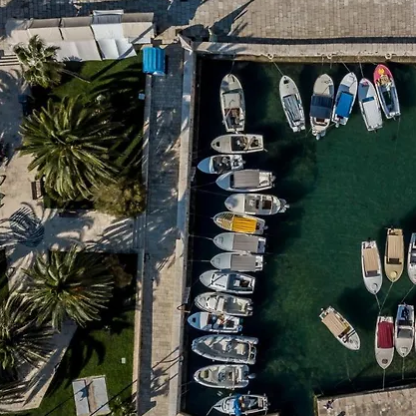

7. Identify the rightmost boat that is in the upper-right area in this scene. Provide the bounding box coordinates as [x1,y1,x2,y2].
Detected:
[376,64,404,122]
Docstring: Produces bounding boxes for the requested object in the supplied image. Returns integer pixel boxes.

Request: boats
[332,72,359,128]
[408,232,416,284]
[361,237,382,295]
[216,170,278,194]
[187,310,245,334]
[214,391,271,416]
[279,75,309,136]
[220,74,247,135]
[195,292,259,317]
[213,232,267,253]
[320,306,359,350]
[375,312,395,370]
[224,193,291,216]
[197,154,249,175]
[192,333,261,365]
[212,212,271,236]
[395,301,415,358]
[210,252,268,273]
[384,225,404,282]
[376,64,404,122]
[308,73,335,143]
[211,133,265,154]
[358,77,384,135]
[193,363,260,390]
[199,269,257,294]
